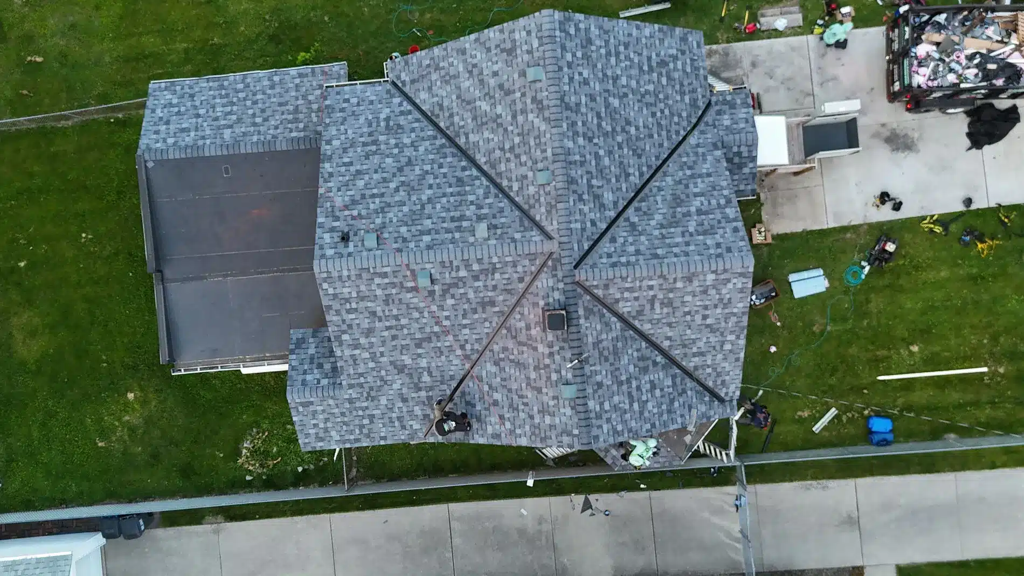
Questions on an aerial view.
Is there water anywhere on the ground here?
No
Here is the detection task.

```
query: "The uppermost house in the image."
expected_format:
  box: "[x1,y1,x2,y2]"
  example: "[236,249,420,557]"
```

[138,7,758,472]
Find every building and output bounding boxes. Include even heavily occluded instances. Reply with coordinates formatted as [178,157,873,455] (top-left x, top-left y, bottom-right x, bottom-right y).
[0,531,117,576]
[138,7,758,472]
